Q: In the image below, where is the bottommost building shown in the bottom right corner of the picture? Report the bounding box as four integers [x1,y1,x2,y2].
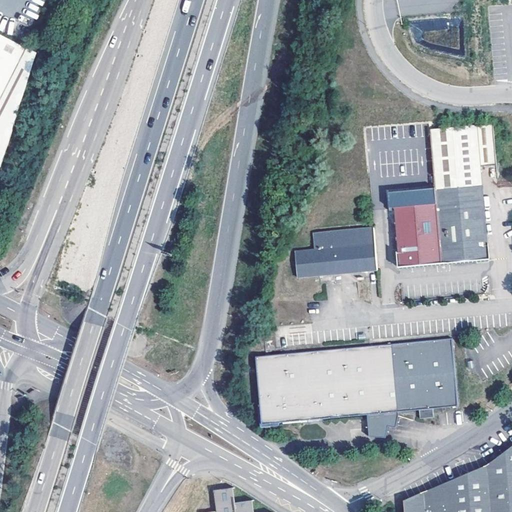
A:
[403,444,512,512]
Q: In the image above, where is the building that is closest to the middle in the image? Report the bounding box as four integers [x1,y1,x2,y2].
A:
[295,227,378,278]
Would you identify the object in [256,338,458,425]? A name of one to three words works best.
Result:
building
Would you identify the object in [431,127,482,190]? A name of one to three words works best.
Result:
shed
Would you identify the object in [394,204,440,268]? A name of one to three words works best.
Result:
building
